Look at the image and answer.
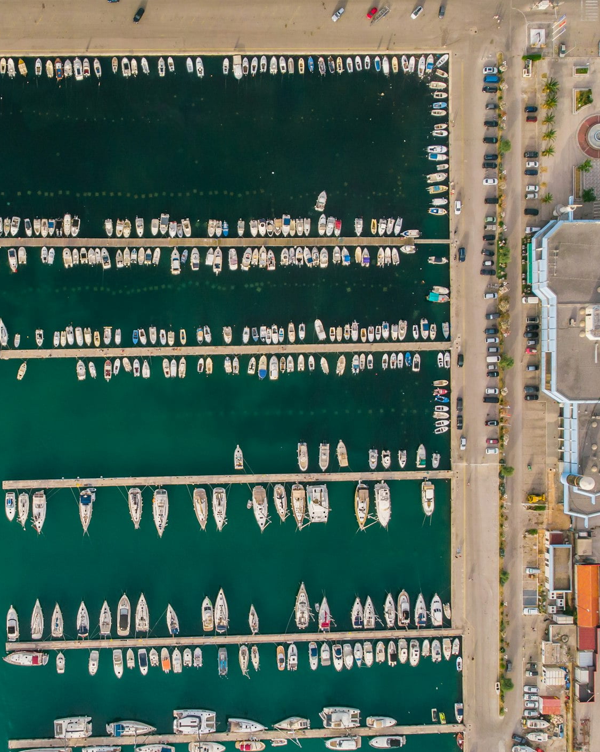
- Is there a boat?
Yes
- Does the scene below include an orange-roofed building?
Yes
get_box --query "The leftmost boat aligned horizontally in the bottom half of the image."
[3,651,46,668]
